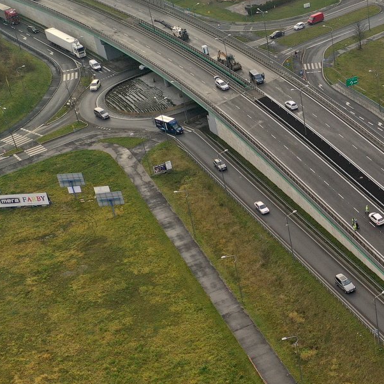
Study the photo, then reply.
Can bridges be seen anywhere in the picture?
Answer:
Yes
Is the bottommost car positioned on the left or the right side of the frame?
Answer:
right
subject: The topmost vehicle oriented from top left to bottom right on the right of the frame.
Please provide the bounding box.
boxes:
[220,44,243,69]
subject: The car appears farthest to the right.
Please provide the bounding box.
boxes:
[367,212,384,226]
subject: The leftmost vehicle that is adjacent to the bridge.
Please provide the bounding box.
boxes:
[47,28,82,55]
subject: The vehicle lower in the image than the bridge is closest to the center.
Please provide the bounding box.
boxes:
[212,158,228,171]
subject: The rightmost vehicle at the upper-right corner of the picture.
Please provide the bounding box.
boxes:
[307,10,323,23]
